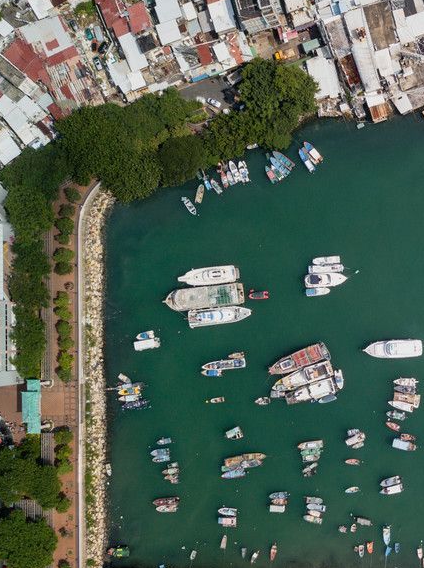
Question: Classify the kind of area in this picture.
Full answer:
The picture captures a residential area.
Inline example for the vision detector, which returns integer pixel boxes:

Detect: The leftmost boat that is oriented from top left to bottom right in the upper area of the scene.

[182,196,197,214]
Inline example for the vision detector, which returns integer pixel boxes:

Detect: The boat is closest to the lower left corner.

[109,546,131,559]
